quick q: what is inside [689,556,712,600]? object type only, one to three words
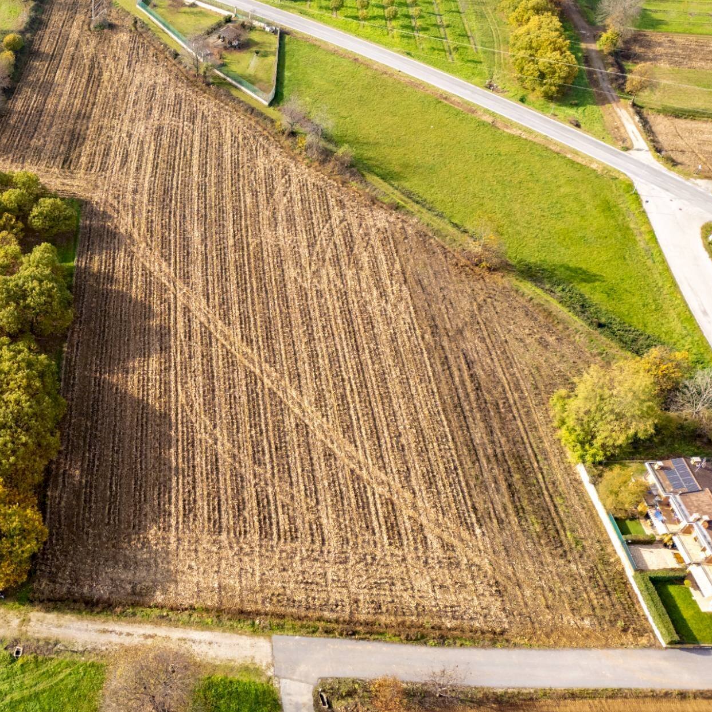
house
